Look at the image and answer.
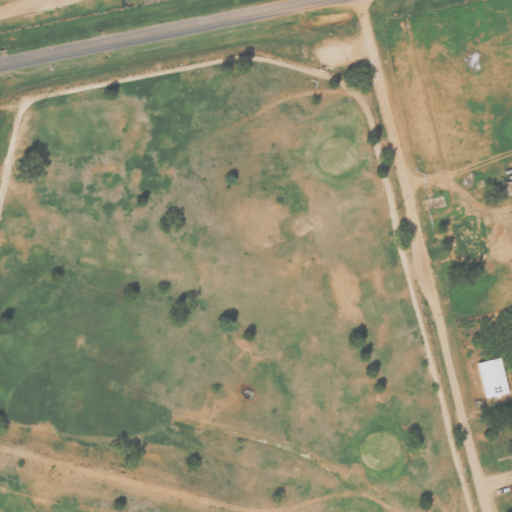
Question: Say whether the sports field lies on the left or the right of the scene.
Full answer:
The sports field is on the left side of the image.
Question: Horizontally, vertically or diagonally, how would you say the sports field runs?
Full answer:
In this picture, the sports field is oriented horizontally.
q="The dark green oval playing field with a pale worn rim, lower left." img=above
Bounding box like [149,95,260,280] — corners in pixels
[9,357,171,438]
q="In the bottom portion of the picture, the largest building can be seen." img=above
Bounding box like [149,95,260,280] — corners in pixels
[478,358,511,399]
